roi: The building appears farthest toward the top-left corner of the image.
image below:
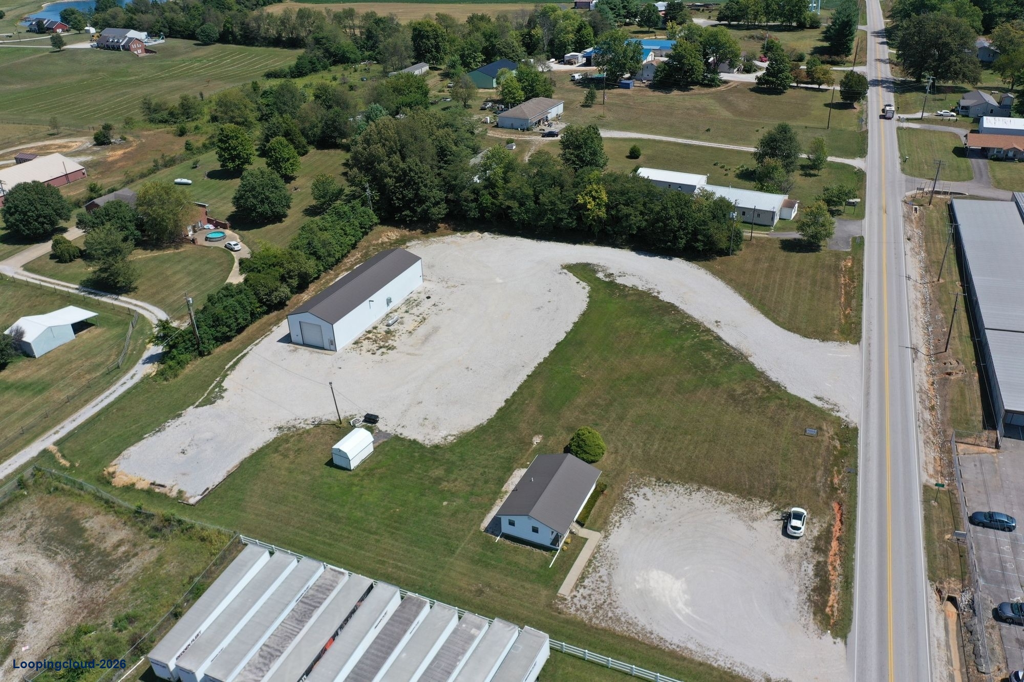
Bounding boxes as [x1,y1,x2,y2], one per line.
[25,15,68,32]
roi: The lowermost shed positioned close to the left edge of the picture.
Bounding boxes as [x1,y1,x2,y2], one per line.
[12,306,91,358]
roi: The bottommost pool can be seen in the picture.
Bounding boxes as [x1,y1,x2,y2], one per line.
[203,229,227,242]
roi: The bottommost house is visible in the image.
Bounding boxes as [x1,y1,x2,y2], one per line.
[495,454,601,548]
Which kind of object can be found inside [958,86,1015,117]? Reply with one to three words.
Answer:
house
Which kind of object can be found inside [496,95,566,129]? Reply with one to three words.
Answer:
house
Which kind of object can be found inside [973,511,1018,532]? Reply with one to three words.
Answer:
car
